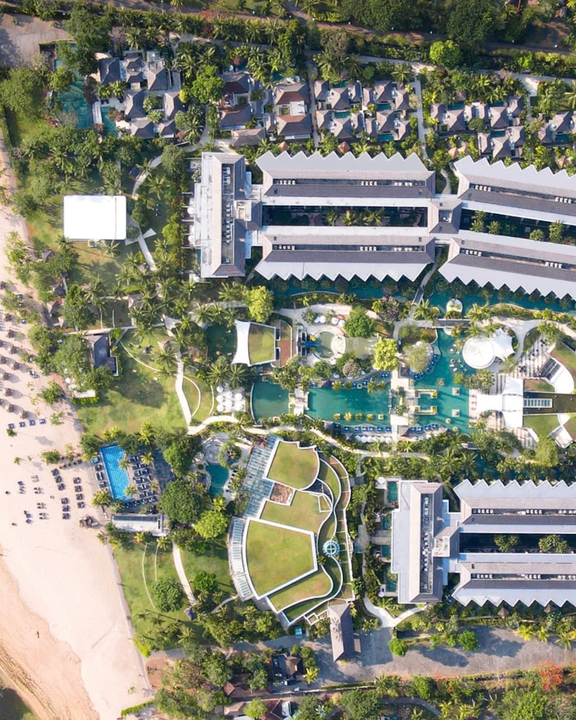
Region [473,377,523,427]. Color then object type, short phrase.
white tent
